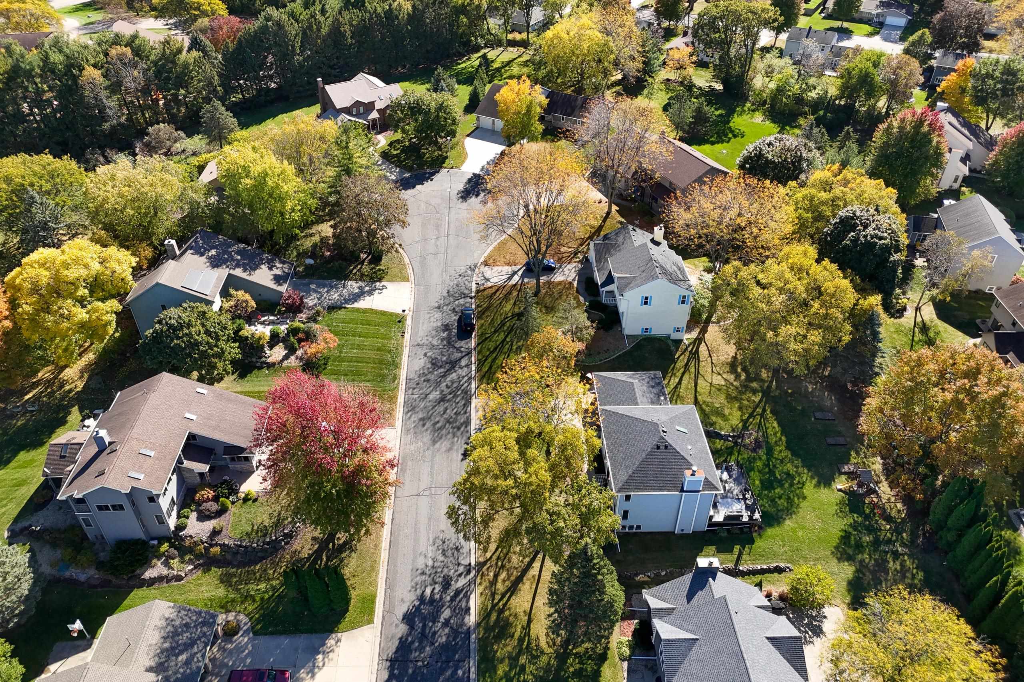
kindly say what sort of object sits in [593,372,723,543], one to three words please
house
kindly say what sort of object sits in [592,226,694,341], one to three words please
house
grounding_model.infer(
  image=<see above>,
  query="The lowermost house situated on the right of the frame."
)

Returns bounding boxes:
[631,548,810,682]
